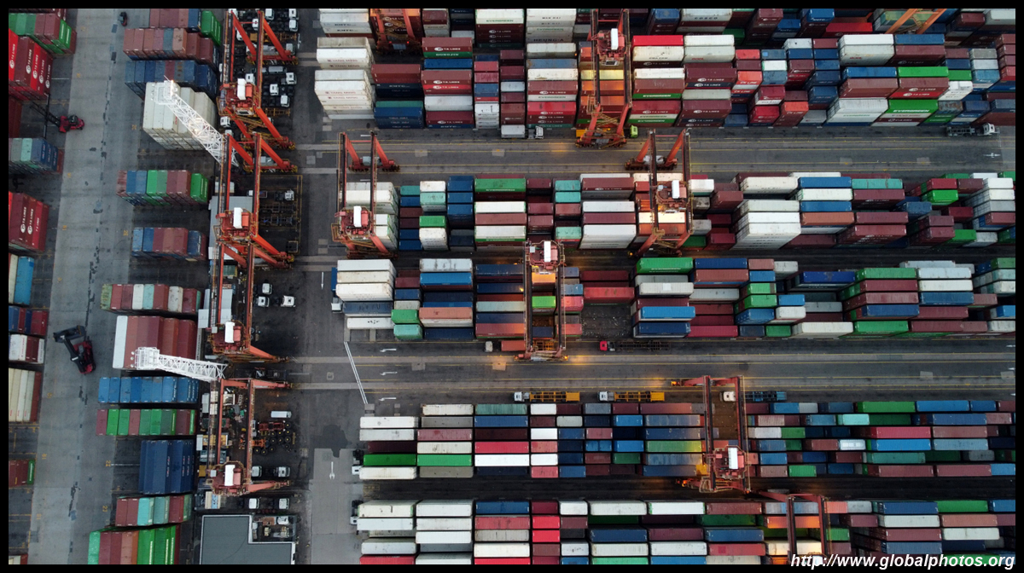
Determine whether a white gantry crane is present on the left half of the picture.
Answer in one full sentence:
No, on the left half of the picture there is no white gantry crane.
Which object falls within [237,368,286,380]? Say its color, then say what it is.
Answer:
black vehicle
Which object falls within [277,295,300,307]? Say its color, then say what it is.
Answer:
white vehicle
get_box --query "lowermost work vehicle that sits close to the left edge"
[47,323,96,377]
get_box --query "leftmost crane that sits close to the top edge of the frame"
[214,9,303,148]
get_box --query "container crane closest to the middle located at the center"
[513,238,570,362]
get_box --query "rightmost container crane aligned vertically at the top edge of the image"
[574,7,633,146]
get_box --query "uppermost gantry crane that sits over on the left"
[353,0,420,54]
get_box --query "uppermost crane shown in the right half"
[884,0,955,35]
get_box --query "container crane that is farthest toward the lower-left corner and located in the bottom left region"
[201,378,299,500]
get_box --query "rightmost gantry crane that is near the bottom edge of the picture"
[739,487,833,573]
